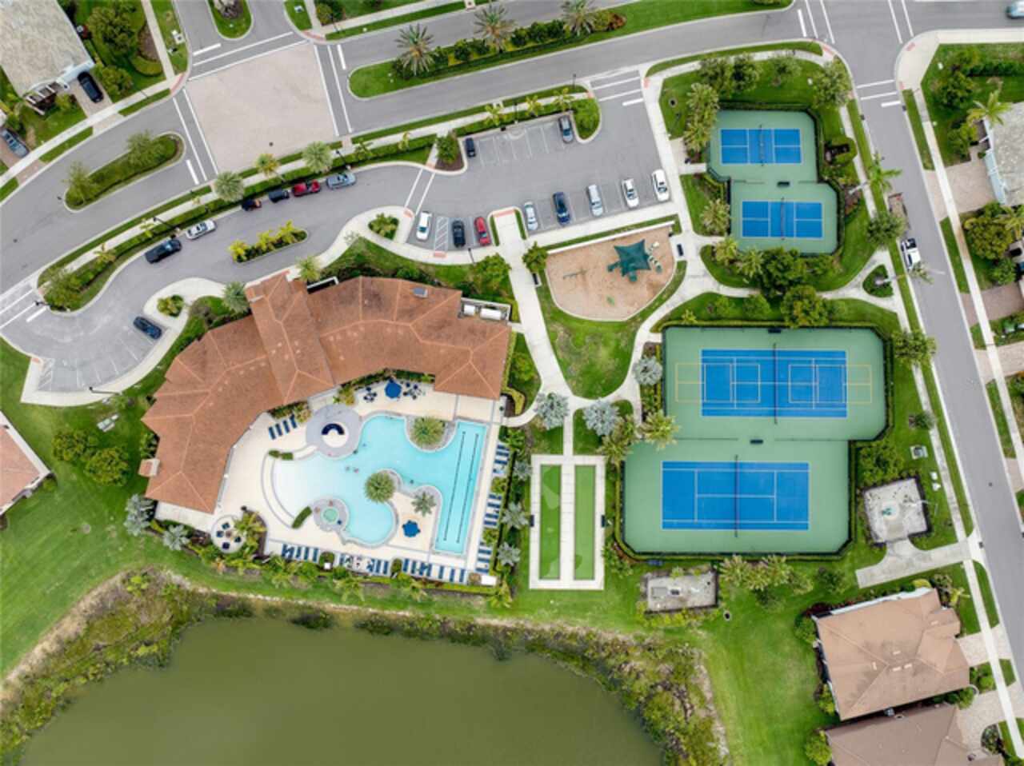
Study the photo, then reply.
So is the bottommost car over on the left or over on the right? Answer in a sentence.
The bottommost car appears in the left half of the scene.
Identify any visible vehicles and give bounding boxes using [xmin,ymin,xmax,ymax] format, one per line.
[623,178,639,207]
[291,180,319,196]
[903,236,923,271]
[554,192,570,222]
[0,126,24,154]
[652,168,669,199]
[523,201,538,230]
[415,211,430,239]
[325,171,356,187]
[474,216,489,245]
[266,186,289,202]
[452,218,465,247]
[239,196,263,211]
[464,136,475,156]
[588,185,603,214]
[559,114,574,142]
[142,239,180,262]
[184,220,215,239]
[75,69,99,100]
[131,316,160,338]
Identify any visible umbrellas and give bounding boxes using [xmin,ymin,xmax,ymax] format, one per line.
[385,382,402,399]
[403,521,418,536]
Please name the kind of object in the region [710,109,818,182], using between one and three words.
sports court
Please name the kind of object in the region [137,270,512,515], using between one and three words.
building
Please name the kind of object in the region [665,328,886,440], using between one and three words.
tennis court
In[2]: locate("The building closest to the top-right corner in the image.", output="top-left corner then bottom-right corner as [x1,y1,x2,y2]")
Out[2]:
[975,101,1024,208]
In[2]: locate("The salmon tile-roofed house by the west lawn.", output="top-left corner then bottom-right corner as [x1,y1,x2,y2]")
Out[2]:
[0,423,48,512]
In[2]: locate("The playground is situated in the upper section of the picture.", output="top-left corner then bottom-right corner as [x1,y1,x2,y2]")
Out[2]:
[546,225,676,322]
